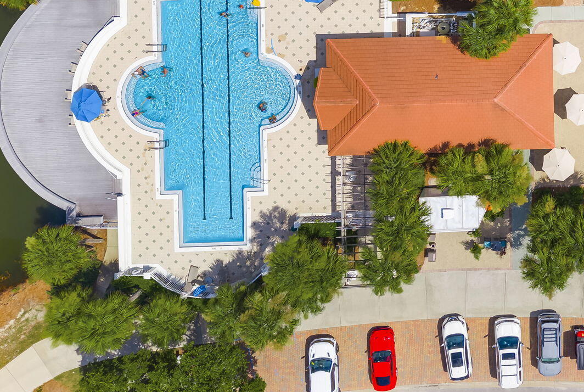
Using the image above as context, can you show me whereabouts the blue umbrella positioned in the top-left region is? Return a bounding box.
[74,88,110,120]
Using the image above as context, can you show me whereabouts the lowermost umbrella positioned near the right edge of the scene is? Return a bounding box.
[542,147,575,180]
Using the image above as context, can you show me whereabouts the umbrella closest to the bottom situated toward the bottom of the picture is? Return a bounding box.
[198,277,216,293]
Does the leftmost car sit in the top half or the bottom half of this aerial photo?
bottom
